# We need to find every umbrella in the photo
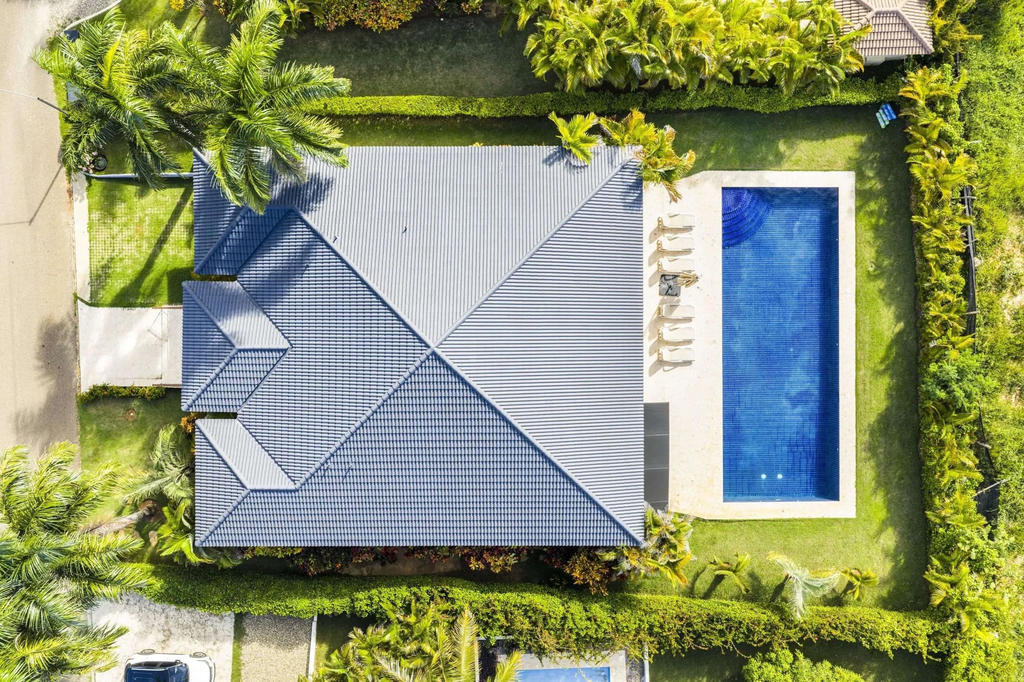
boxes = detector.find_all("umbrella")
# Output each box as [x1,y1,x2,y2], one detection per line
[661,271,698,294]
